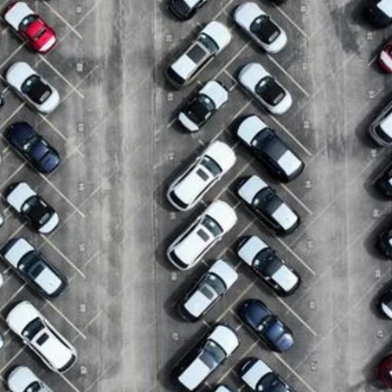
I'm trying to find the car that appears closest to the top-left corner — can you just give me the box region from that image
[5,2,54,52]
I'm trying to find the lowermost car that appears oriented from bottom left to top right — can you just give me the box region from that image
[171,323,237,392]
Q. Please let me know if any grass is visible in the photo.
No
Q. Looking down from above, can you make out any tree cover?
No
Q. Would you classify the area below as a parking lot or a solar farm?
parking lot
